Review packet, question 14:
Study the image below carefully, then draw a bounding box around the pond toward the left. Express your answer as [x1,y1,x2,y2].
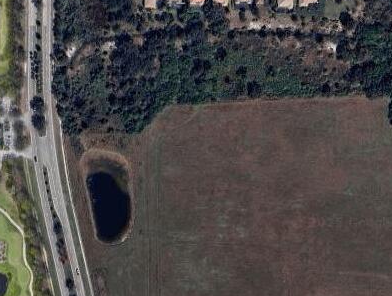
[86,171,131,239]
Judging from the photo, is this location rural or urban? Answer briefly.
rural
